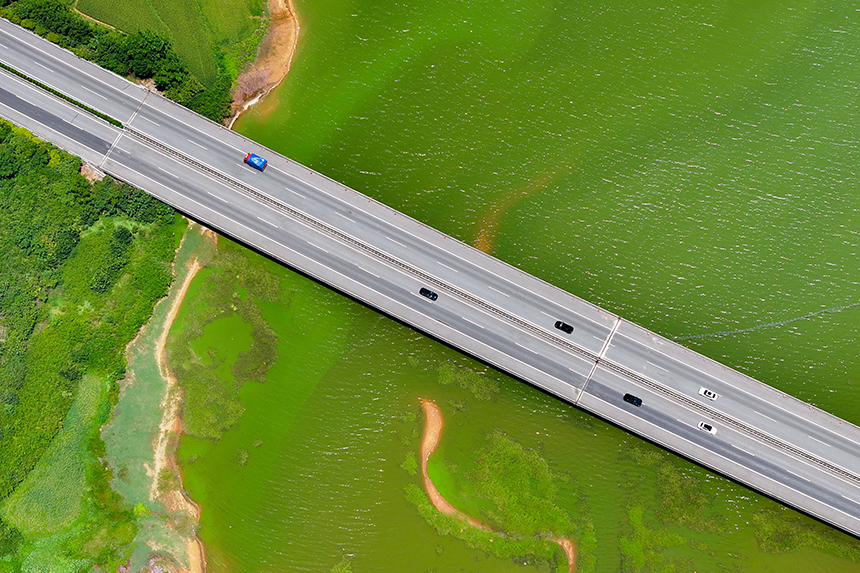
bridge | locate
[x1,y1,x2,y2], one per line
[98,88,860,534]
